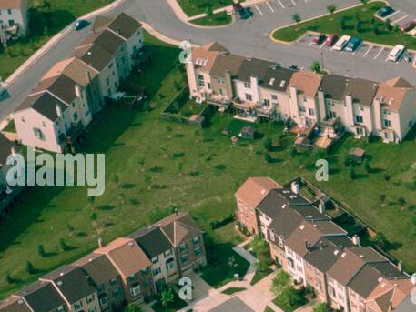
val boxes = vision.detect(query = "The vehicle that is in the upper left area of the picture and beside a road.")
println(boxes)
[72,16,91,29]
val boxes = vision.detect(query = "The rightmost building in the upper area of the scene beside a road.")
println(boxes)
[370,76,416,144]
